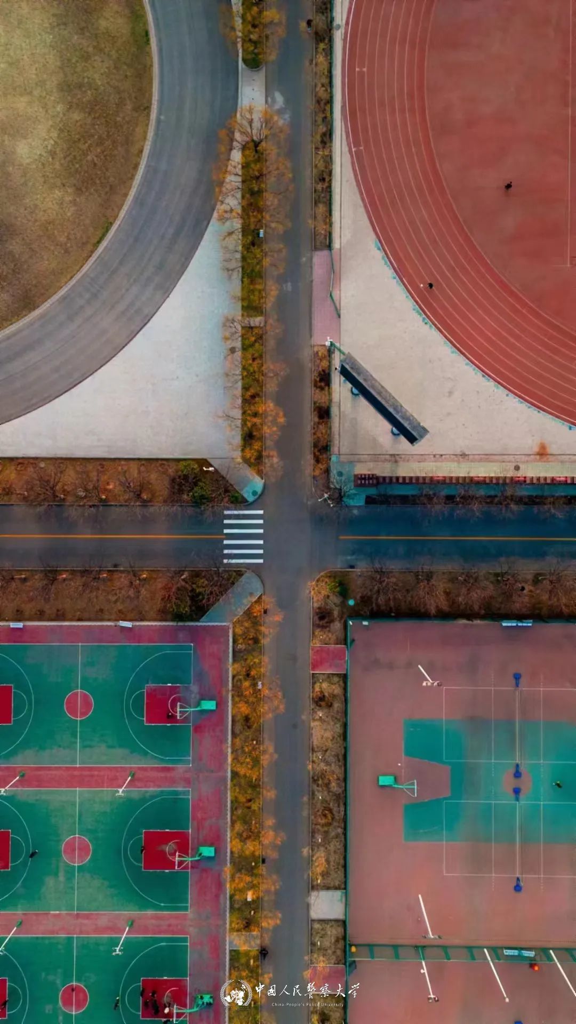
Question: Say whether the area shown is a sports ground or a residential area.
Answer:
sports ground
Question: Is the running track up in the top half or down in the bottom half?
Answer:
top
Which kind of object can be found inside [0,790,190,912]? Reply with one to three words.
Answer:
basketball court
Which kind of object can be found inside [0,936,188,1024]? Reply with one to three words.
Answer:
basketball court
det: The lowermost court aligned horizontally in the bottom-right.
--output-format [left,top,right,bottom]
[346,947,576,1024]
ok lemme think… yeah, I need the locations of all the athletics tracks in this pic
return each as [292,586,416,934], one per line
[342,0,576,425]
